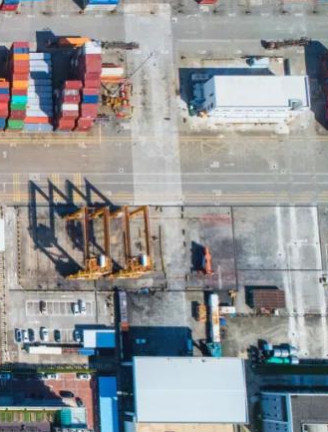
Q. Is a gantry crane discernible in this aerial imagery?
Yes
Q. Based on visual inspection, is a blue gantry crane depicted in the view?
No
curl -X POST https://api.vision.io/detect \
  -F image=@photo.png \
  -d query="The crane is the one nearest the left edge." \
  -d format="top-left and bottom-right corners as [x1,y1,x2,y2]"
[60,201,111,274]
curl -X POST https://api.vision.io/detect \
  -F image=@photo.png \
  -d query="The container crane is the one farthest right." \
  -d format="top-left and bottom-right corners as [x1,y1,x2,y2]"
[100,201,155,274]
